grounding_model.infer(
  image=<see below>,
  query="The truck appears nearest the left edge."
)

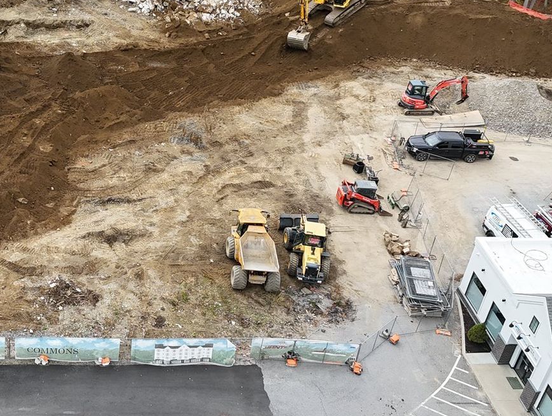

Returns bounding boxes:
[227,207,283,293]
